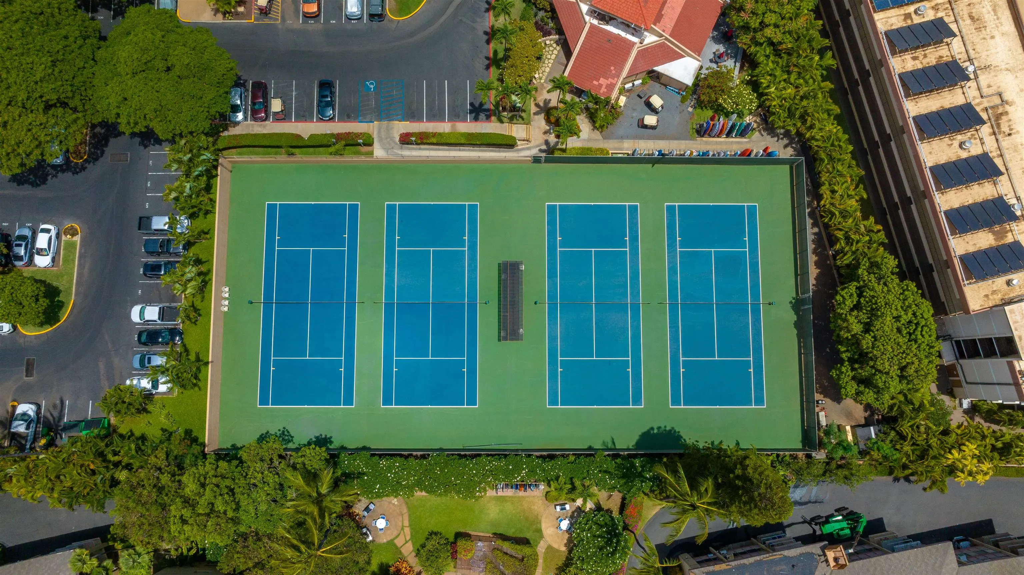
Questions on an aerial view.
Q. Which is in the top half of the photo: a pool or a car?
car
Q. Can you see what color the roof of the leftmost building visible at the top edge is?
red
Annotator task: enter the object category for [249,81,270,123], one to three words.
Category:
car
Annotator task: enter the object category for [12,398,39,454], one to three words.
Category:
truck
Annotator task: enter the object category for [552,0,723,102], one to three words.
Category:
building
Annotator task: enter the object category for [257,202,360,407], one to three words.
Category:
tennis court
